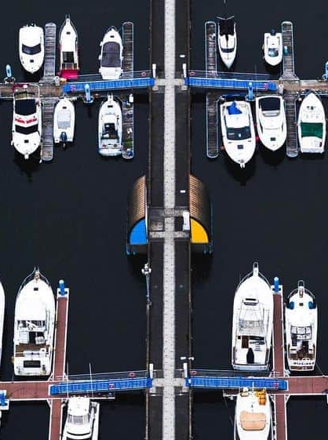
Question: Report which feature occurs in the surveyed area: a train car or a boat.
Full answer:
The one in the frame is a boat.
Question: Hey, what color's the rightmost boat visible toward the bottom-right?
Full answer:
From above, the rightmost boat visible toward the bottom-right appears white.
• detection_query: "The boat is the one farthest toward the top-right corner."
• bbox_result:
[264,30,281,64]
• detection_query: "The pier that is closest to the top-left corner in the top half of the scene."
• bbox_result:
[33,23,63,84]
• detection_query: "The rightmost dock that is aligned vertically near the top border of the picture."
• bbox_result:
[274,22,302,79]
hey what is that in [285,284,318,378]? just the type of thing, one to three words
boat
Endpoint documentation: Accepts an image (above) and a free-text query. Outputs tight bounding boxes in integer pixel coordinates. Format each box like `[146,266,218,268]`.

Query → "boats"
[54,97,78,145]
[258,93,287,151]
[297,90,326,150]
[59,17,78,78]
[11,80,41,157]
[98,98,122,156]
[221,95,257,167]
[264,30,281,64]
[285,284,318,378]
[59,391,96,440]
[233,266,274,378]
[217,0,237,78]
[14,267,56,389]
[20,23,47,82]
[99,27,123,81]
[234,392,273,440]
